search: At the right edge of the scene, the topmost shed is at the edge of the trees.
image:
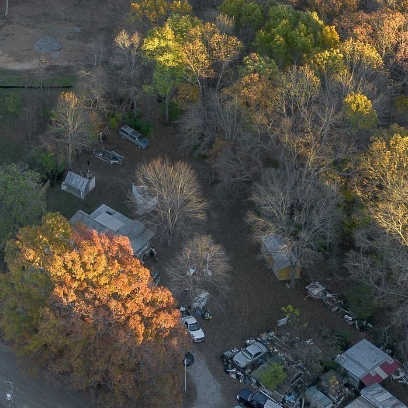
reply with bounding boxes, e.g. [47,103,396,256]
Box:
[331,339,399,395]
